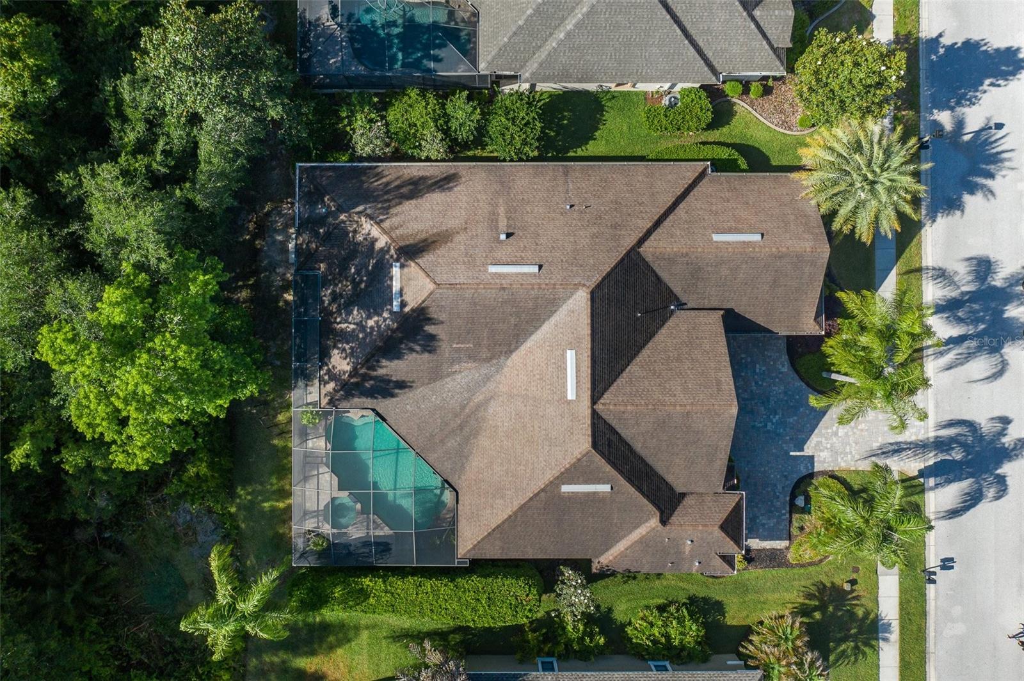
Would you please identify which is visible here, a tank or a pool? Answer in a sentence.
Of the two, only a pool appears.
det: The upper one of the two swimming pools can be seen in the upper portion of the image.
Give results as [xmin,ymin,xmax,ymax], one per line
[326,0,474,71]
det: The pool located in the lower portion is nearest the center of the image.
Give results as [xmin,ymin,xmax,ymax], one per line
[322,414,450,533]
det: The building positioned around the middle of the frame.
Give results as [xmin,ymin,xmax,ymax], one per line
[293,161,833,575]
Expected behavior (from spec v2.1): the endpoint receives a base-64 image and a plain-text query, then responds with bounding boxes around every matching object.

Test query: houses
[479,0,799,91]
[293,161,833,575]
[463,657,763,681]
